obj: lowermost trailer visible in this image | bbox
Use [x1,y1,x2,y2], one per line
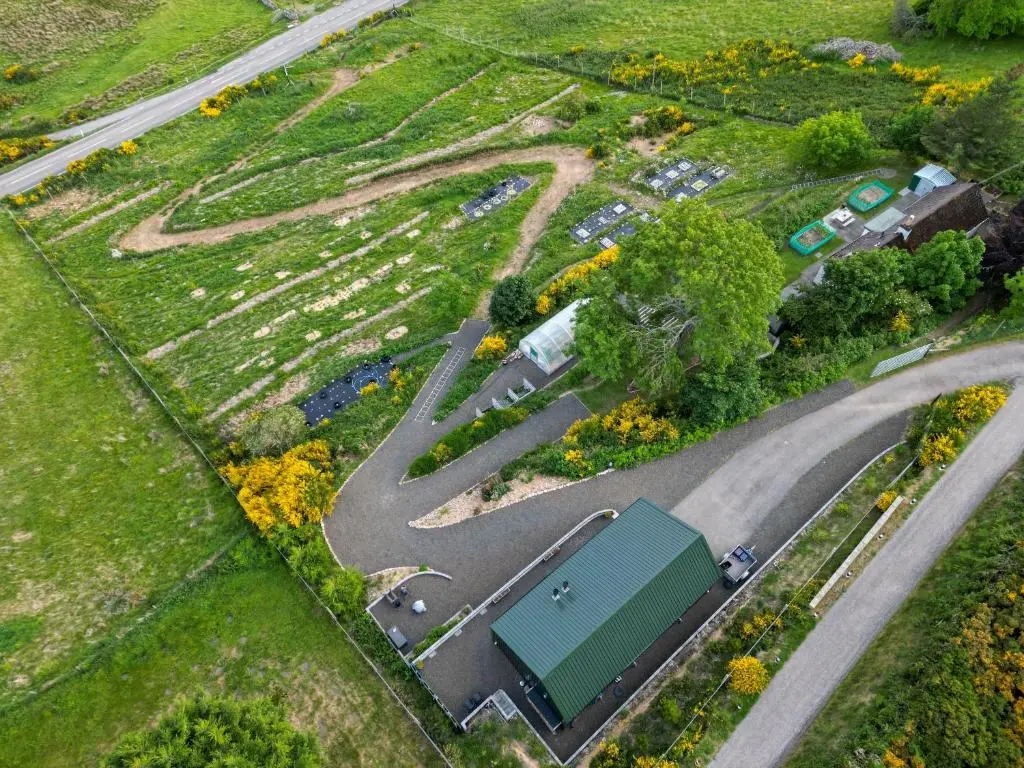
[717,543,757,584]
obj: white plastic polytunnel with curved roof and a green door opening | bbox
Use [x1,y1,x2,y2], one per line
[517,292,595,374]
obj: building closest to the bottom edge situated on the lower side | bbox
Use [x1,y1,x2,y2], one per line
[490,498,722,730]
